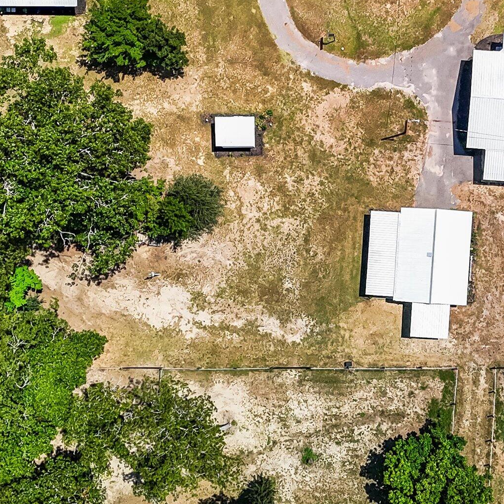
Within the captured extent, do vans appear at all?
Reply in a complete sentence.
No, no van can be seen from above.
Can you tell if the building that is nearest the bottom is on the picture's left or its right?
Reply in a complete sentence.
It is on the right.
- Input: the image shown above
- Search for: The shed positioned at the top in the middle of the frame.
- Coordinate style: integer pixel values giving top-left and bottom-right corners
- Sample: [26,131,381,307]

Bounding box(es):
[214,116,257,148]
